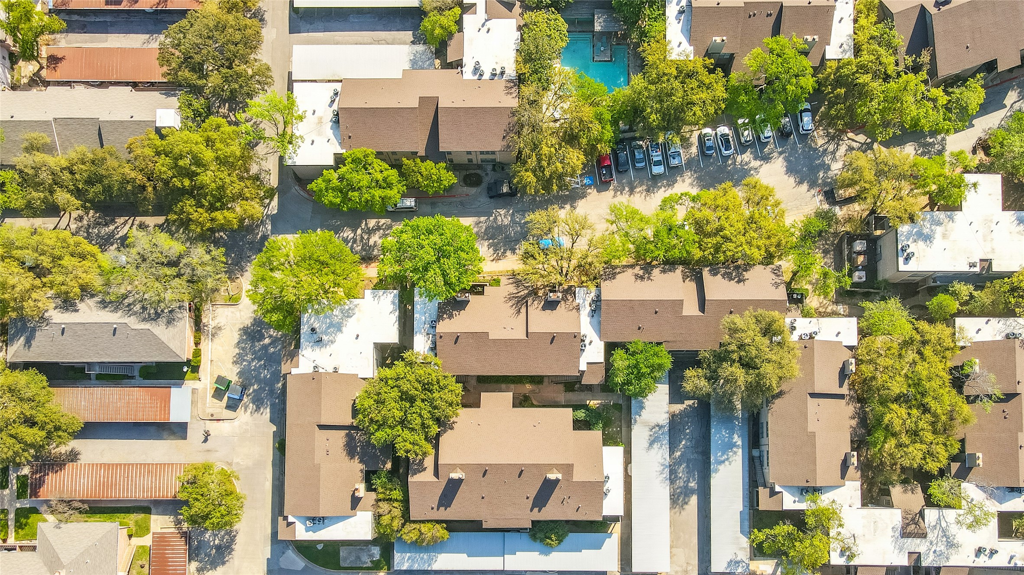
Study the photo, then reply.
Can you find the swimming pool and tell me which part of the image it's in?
top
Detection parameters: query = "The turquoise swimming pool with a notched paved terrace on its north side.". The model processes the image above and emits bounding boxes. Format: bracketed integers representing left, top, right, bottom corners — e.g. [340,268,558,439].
[524,16,642,147]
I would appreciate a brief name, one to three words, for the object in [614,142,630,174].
car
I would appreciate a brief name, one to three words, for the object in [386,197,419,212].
car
